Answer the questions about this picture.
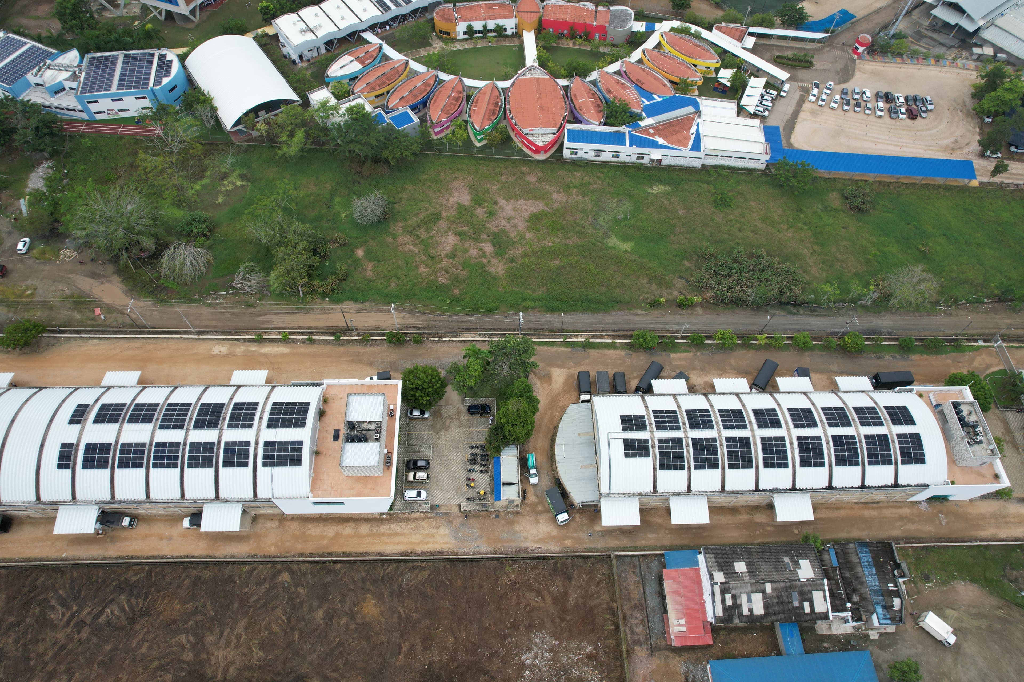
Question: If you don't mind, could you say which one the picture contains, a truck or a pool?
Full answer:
I can see a truck in this picture.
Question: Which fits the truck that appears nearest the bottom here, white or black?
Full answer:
From above, the truck that appears nearest the bottom appears white.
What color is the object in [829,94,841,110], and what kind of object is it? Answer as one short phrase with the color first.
white vehicle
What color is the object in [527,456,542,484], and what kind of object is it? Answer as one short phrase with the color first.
white vehicle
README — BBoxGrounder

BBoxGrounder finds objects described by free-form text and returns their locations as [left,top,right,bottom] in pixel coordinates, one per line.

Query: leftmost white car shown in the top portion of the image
[16,239,31,255]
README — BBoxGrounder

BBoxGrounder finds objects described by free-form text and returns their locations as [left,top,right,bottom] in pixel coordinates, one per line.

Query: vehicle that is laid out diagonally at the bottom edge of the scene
[917,609,963,650]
